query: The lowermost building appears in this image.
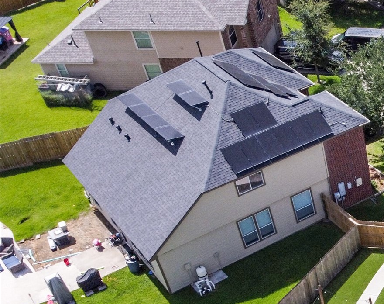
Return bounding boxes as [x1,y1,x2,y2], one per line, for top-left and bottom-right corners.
[62,46,375,293]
